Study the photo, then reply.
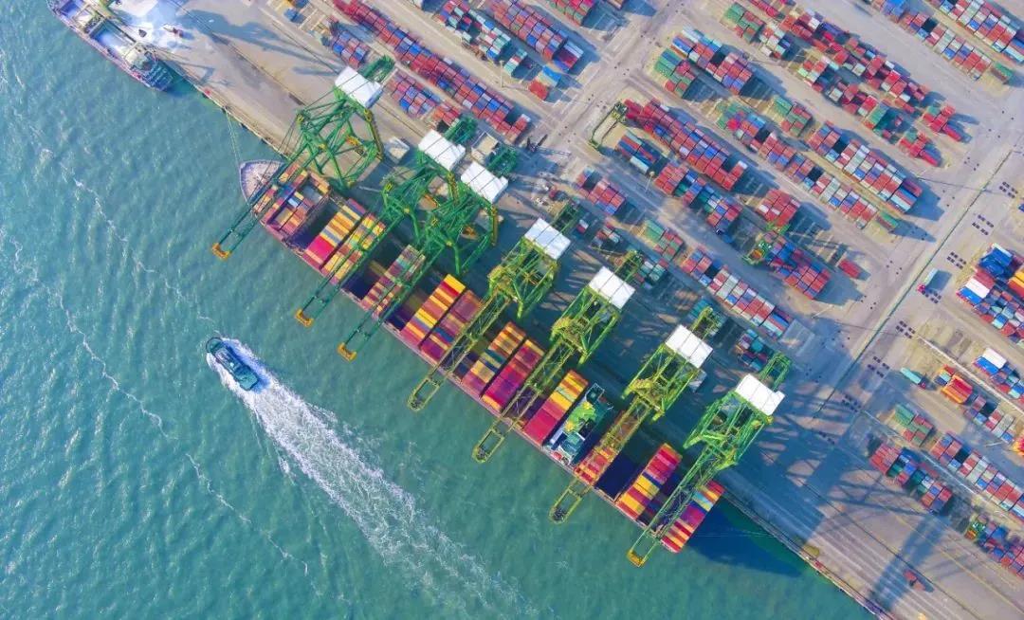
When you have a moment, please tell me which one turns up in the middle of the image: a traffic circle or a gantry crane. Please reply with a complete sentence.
It is a gantry crane that can be seen in the middle of the image.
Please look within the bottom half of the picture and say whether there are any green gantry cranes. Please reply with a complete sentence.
Yes, you'll find a green gantry crane within the bottom half of the picture.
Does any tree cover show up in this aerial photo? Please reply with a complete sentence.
No, there's no tree cover in this view.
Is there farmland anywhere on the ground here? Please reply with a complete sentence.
No, no farmland is visible.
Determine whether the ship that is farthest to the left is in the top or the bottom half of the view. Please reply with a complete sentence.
It is in the top half that the ship that is farthest to the left appears.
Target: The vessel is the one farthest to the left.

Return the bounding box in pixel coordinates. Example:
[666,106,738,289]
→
[35,0,208,96]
